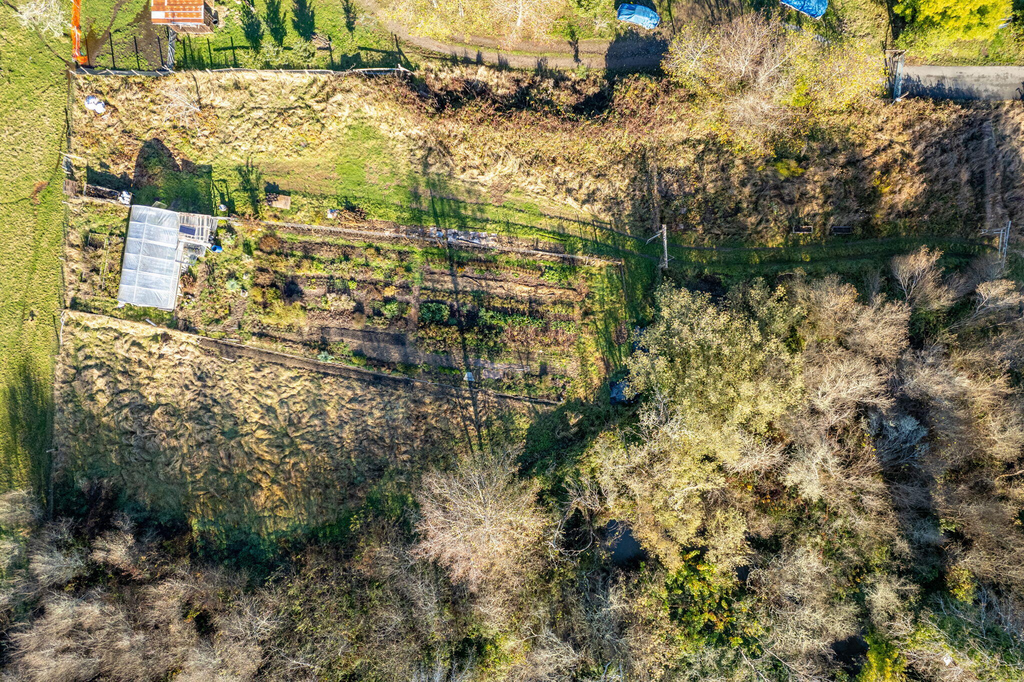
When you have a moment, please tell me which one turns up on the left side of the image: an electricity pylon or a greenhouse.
greenhouse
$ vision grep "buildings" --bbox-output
[122,204,183,310]
[148,0,215,35]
